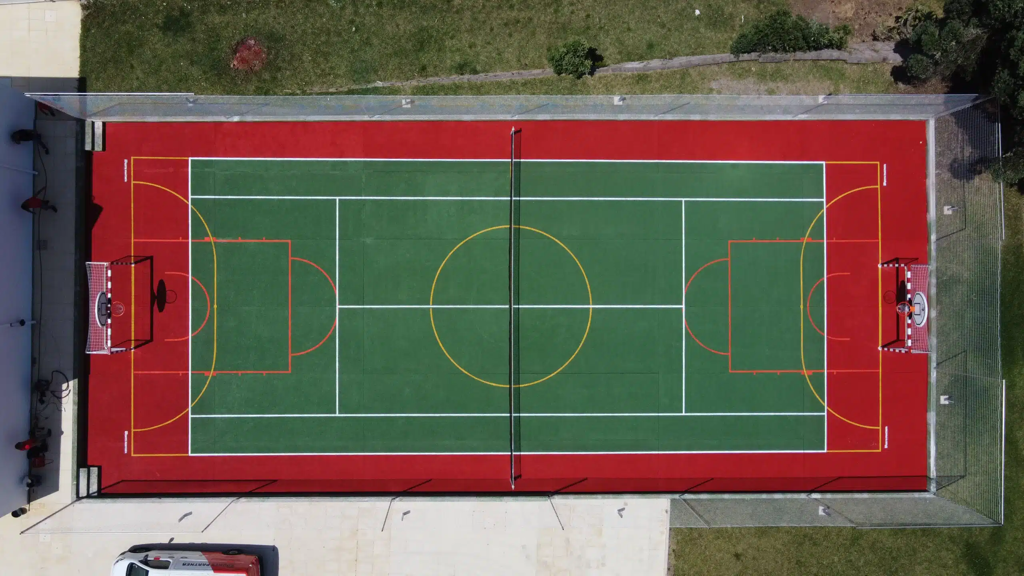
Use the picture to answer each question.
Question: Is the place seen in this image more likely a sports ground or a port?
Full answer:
This looks like a sports ground.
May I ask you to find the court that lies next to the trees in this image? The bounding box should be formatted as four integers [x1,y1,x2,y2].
[84,119,927,496]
